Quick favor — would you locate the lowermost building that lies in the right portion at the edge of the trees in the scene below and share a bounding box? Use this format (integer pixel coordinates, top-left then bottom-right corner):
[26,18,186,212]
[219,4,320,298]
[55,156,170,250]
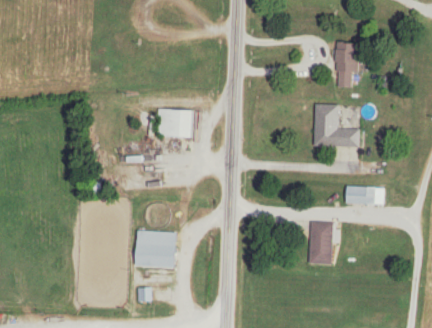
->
[310,222,333,264]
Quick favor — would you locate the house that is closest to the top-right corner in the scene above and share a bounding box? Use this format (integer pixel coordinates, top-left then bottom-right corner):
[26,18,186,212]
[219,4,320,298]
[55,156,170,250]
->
[336,41,362,88]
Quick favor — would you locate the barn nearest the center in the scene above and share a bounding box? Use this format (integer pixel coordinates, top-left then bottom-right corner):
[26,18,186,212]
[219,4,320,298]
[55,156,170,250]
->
[158,108,196,140]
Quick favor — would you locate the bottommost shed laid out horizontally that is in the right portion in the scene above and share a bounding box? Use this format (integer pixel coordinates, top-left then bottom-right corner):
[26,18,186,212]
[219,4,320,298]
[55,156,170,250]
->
[346,186,387,206]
